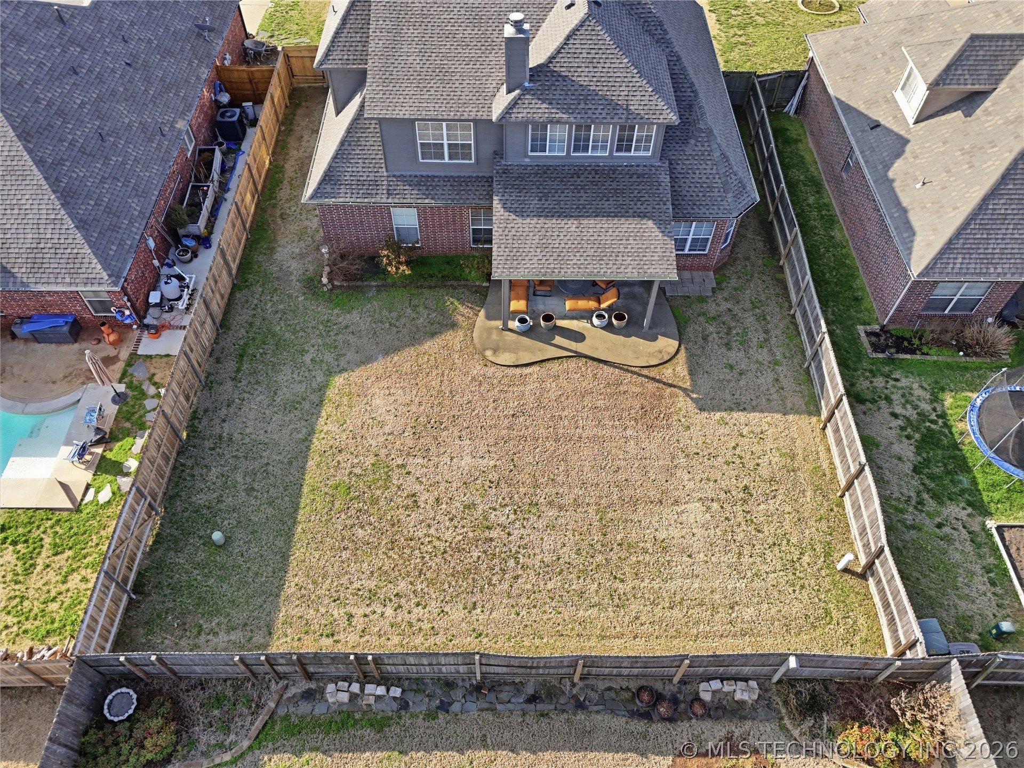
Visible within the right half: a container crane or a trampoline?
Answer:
trampoline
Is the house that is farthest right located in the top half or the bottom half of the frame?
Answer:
top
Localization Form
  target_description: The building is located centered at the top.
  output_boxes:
[299,0,764,330]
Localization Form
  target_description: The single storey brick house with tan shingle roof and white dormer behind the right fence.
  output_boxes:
[791,0,1024,332]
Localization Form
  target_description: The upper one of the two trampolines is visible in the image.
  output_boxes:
[947,341,1024,485]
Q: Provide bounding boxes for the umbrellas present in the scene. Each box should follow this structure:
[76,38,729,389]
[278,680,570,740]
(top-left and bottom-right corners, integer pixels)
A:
[73,351,127,405]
